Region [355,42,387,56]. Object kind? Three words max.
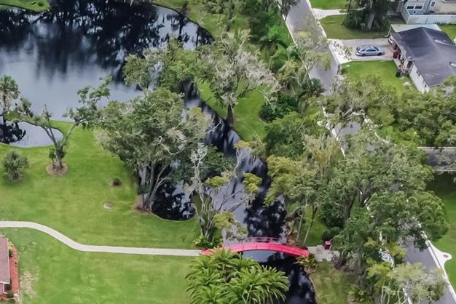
vehicle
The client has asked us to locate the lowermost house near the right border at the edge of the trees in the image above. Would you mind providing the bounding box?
[390,25,456,101]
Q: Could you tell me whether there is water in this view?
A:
Yes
